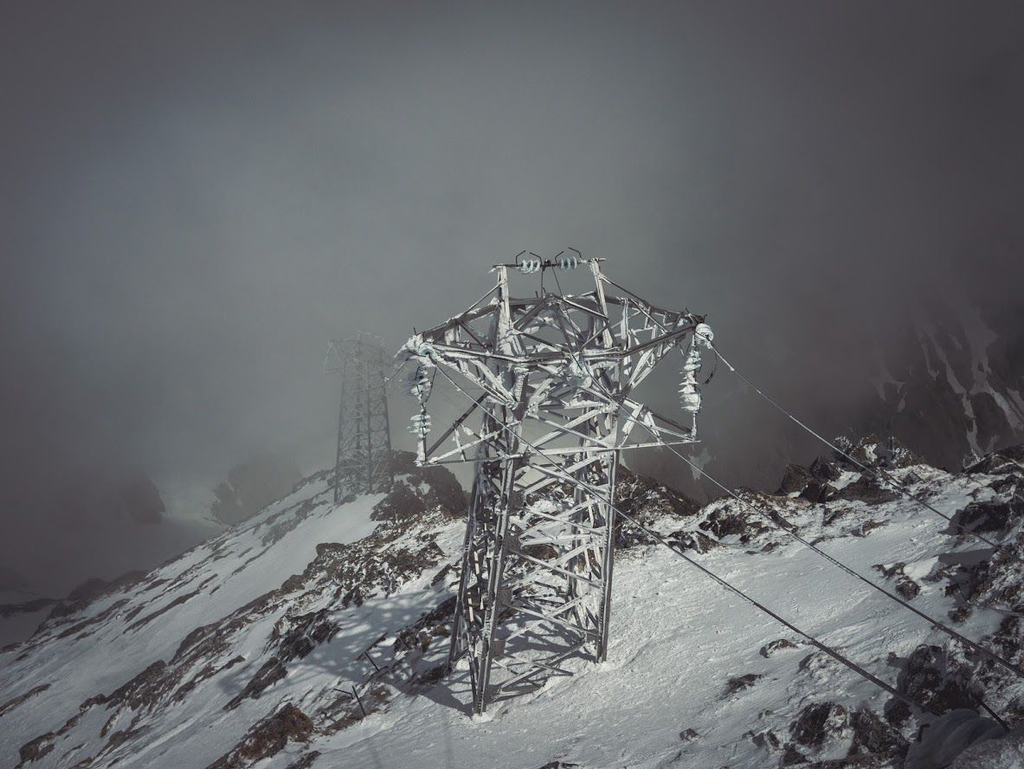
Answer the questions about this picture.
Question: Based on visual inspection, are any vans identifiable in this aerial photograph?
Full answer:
No, no van is visible in the scene.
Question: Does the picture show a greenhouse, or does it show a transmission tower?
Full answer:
The one in the frame is a transmission tower.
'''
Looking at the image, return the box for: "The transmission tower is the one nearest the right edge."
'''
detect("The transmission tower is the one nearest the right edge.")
[408,260,708,711]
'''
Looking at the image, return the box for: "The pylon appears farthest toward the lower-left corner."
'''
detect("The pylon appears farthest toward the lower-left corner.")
[324,332,394,495]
